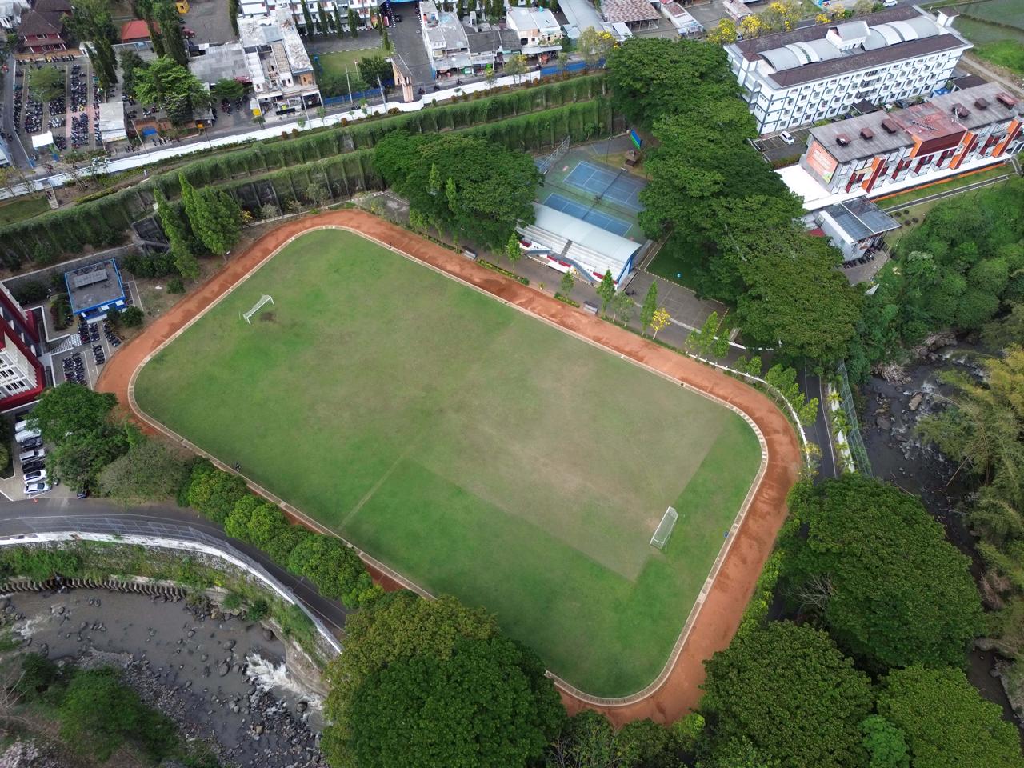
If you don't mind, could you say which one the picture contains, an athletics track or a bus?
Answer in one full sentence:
Looking from above, you can make out an athletics track.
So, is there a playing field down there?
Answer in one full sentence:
Yes, a playing field is visible in the scene.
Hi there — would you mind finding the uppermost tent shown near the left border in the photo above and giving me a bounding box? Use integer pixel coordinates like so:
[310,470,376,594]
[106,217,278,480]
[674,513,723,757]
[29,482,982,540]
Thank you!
[32,132,55,154]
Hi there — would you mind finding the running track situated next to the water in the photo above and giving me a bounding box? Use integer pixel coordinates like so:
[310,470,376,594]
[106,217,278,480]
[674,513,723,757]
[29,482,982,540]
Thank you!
[97,210,800,736]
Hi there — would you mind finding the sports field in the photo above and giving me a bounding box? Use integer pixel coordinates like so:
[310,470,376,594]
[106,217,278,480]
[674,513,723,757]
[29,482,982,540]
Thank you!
[132,228,761,697]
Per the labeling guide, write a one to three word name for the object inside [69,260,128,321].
house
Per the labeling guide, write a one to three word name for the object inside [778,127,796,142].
car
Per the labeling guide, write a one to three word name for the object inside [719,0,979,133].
building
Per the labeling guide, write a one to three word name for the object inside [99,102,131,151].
building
